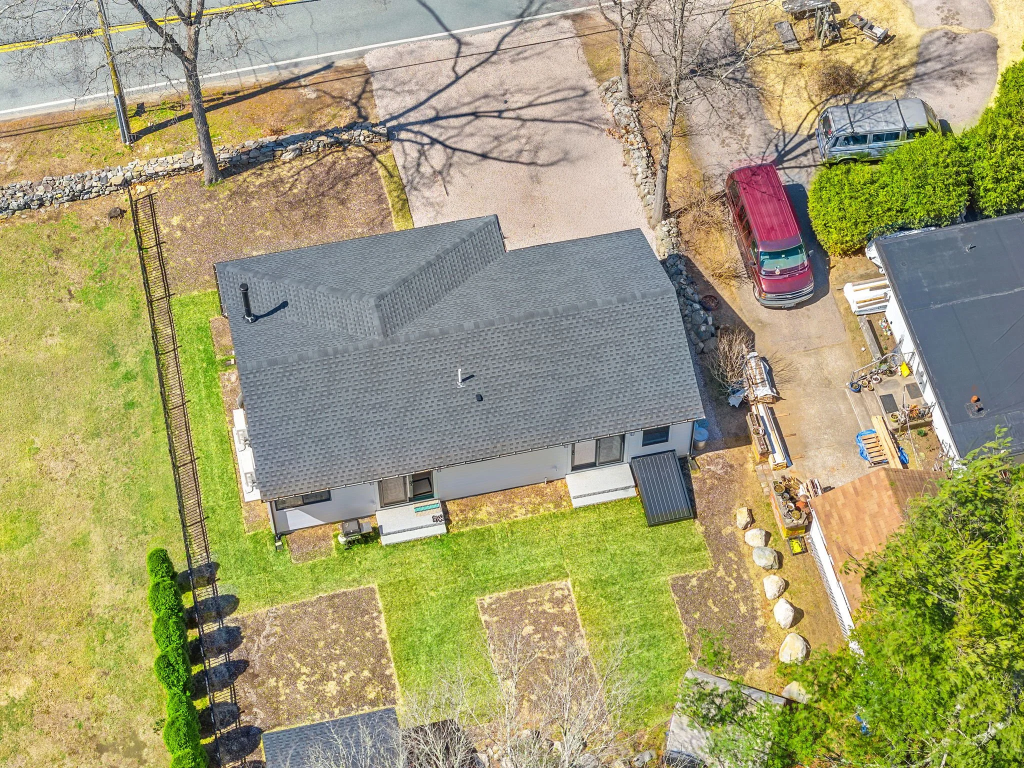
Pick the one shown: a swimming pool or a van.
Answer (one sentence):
The one in the frame is a van.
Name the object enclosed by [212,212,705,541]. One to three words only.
house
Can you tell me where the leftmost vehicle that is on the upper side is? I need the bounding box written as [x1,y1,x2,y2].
[722,160,818,309]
